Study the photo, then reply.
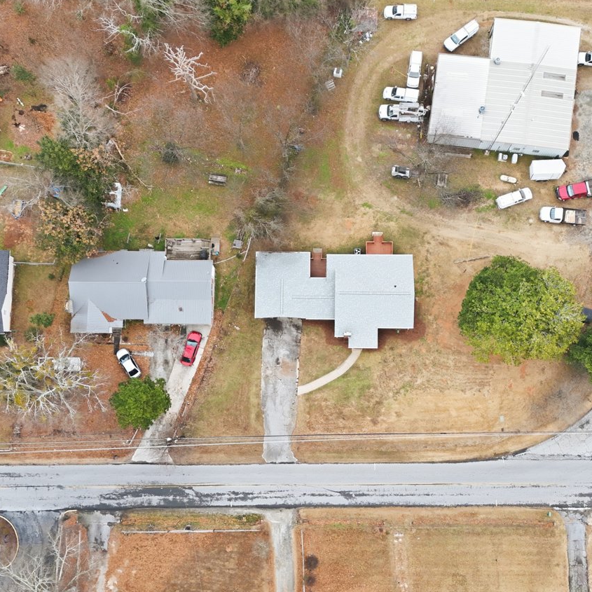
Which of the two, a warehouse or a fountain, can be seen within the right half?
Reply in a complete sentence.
What appears within the right half is a warehouse.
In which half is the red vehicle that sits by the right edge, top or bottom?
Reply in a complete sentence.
The red vehicle that sits by the right edge is in the top half of the image.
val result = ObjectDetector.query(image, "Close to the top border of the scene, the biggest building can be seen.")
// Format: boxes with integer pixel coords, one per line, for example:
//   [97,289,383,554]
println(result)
[427,18,581,158]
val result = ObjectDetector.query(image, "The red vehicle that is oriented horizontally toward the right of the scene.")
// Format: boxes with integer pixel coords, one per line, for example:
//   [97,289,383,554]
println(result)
[554,179,592,200]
